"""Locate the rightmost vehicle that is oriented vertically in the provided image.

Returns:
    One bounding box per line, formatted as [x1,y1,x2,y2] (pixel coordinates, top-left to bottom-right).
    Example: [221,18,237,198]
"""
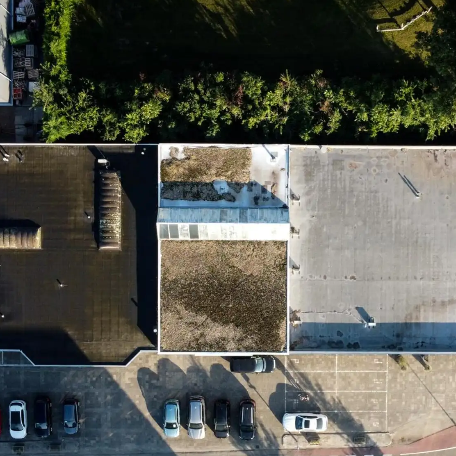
[237,399,257,440]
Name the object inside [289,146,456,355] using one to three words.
building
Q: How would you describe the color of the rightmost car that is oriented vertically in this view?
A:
black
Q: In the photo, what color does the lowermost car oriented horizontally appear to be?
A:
white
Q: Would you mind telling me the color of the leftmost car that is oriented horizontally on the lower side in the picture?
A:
black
